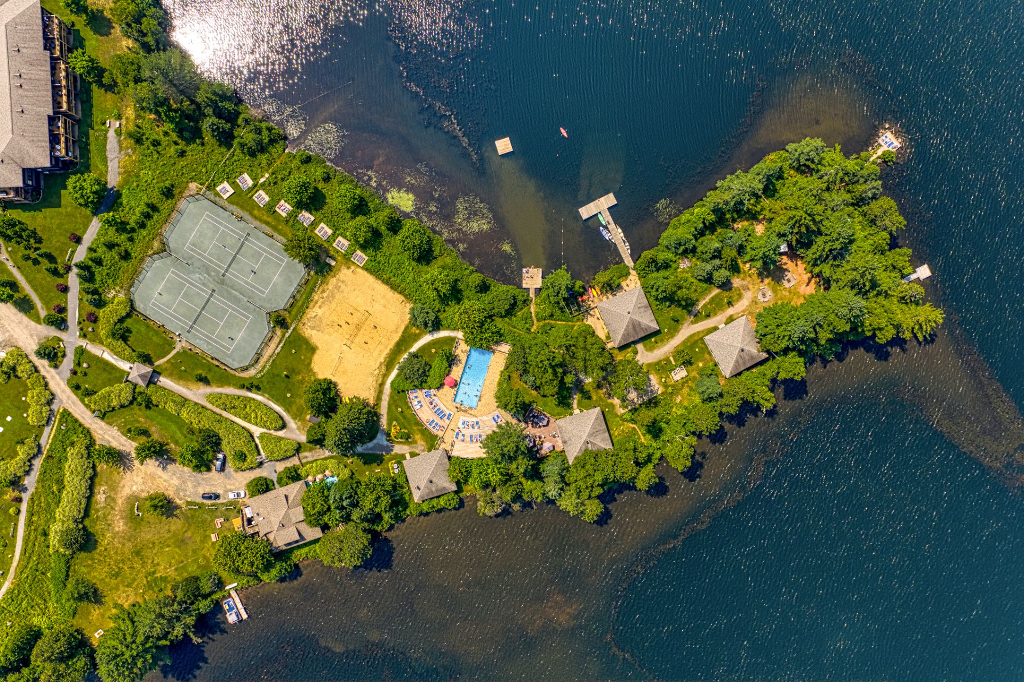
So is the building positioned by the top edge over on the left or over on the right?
left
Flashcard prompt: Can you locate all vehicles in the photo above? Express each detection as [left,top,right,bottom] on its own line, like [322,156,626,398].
[228,490,247,499]
[216,453,225,472]
[201,492,221,500]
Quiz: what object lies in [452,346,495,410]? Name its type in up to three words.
swimming pool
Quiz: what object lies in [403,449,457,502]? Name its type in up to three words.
house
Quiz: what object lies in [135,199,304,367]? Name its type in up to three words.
tennis court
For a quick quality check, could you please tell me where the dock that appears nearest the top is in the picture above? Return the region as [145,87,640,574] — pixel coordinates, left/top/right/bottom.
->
[578,193,634,268]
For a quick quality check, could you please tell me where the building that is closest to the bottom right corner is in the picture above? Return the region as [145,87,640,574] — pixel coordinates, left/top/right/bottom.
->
[704,316,765,378]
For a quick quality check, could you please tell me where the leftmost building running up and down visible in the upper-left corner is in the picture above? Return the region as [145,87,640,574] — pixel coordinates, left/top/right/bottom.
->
[0,0,83,203]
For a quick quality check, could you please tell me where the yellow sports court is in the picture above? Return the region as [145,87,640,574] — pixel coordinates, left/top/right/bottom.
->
[297,265,415,406]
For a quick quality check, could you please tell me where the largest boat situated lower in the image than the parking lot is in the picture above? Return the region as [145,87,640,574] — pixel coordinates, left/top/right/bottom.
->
[221,599,240,626]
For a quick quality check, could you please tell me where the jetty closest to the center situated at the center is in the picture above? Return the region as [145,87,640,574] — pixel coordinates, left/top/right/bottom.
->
[522,268,542,303]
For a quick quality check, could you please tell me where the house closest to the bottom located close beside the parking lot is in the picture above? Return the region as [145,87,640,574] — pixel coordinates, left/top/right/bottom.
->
[241,480,321,554]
